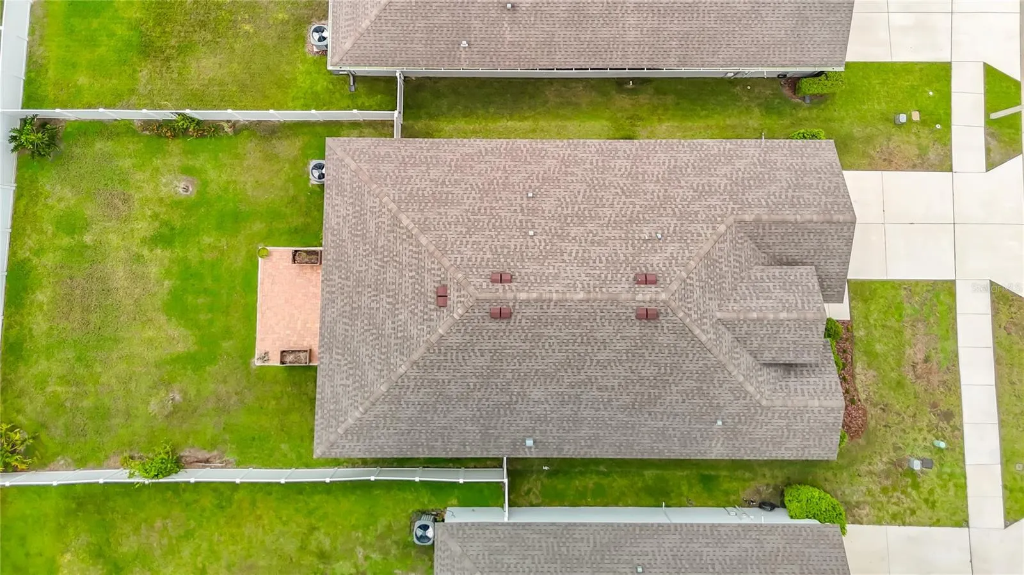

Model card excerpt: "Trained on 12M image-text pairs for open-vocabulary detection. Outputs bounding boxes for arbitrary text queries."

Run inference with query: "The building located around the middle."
[313,137,858,461]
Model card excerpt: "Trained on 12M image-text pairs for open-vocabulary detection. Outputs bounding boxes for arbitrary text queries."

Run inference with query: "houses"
[328,0,856,87]
[434,507,851,575]
[313,137,858,461]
